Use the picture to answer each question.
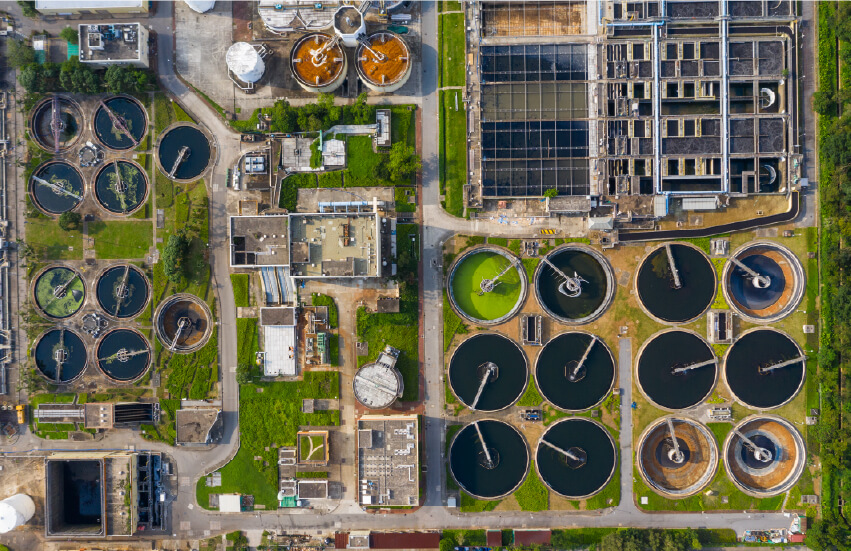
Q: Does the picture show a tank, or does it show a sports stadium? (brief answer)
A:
tank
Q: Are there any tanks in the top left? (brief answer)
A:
Yes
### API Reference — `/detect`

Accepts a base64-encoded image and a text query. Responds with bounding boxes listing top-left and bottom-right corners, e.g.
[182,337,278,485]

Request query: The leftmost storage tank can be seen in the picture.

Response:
[0,491,35,534]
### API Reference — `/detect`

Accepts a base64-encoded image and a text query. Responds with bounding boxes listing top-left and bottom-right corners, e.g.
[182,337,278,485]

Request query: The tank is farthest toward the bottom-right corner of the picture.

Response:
[721,412,807,498]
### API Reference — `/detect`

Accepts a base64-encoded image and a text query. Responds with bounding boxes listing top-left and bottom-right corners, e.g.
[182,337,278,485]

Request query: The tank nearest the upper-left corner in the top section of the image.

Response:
[30,95,86,152]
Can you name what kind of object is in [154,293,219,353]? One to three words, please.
storage tank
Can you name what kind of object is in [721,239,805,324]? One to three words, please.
storage tank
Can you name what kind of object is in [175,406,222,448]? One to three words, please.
building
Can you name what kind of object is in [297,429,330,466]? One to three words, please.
shed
